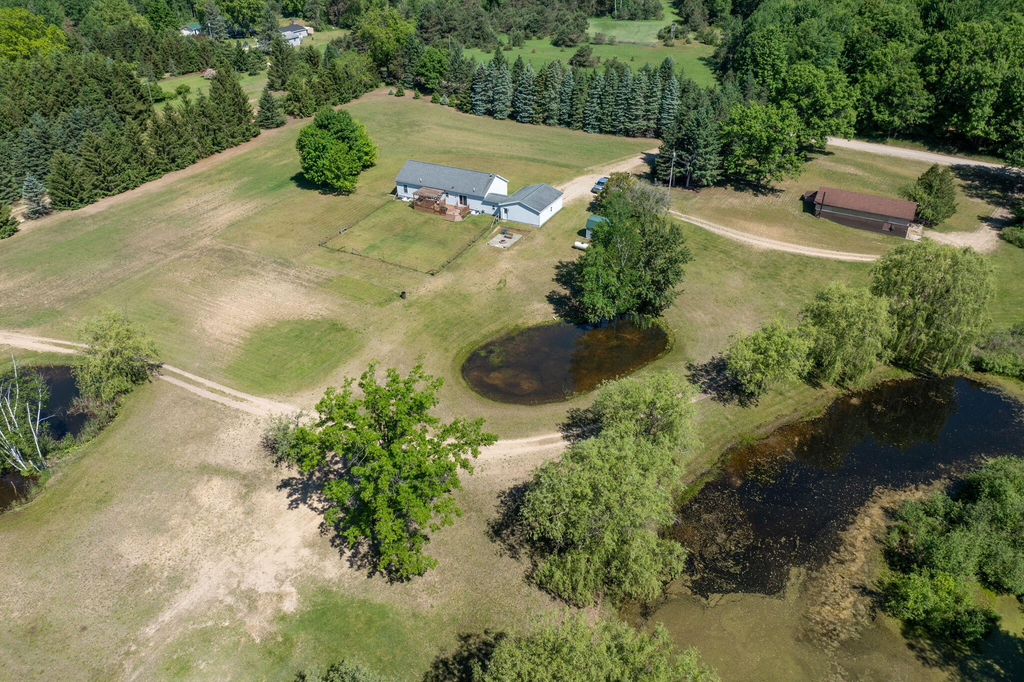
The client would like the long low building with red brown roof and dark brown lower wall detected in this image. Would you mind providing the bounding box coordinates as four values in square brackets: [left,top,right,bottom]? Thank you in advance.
[816,186,923,239]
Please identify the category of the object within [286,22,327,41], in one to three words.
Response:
house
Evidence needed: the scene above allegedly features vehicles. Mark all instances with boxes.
[593,176,610,190]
